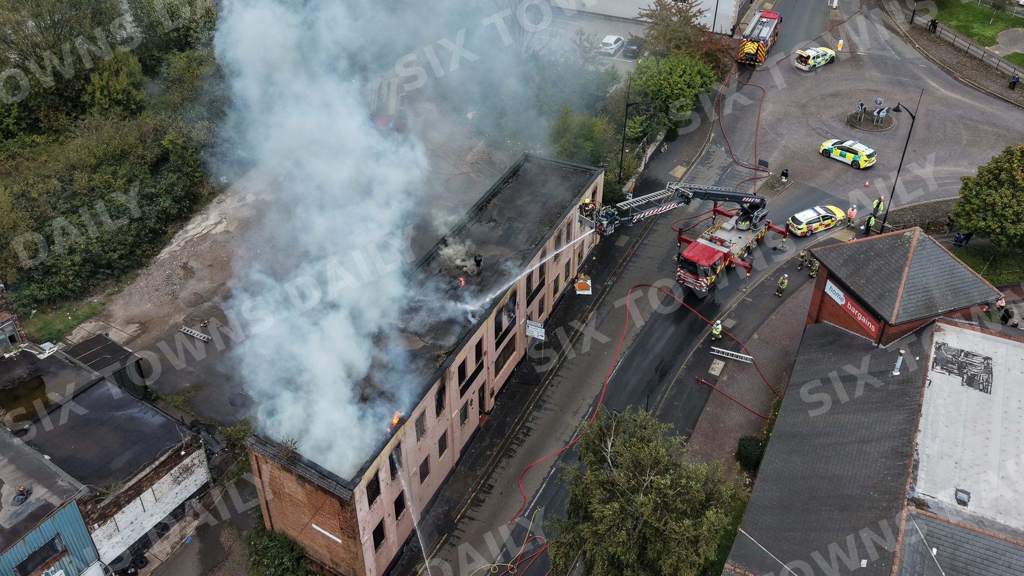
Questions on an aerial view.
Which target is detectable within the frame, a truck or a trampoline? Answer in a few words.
truck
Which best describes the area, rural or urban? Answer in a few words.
urban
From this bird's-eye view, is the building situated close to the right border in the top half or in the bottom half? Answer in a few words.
bottom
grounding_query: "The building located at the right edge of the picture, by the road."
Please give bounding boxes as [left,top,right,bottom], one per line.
[713,222,1024,576]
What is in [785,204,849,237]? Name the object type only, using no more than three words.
car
